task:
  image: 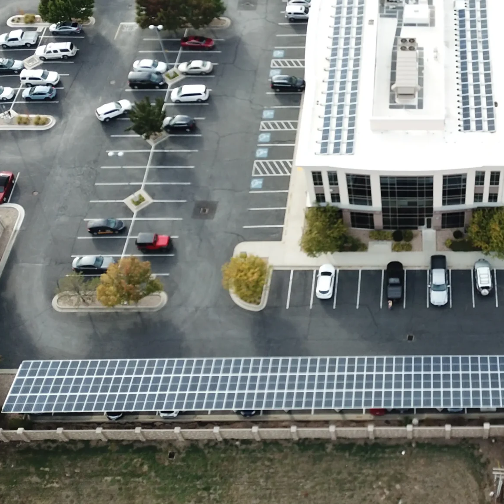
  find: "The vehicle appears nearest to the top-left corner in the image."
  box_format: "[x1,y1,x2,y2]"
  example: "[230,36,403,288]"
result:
[0,30,40,48]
